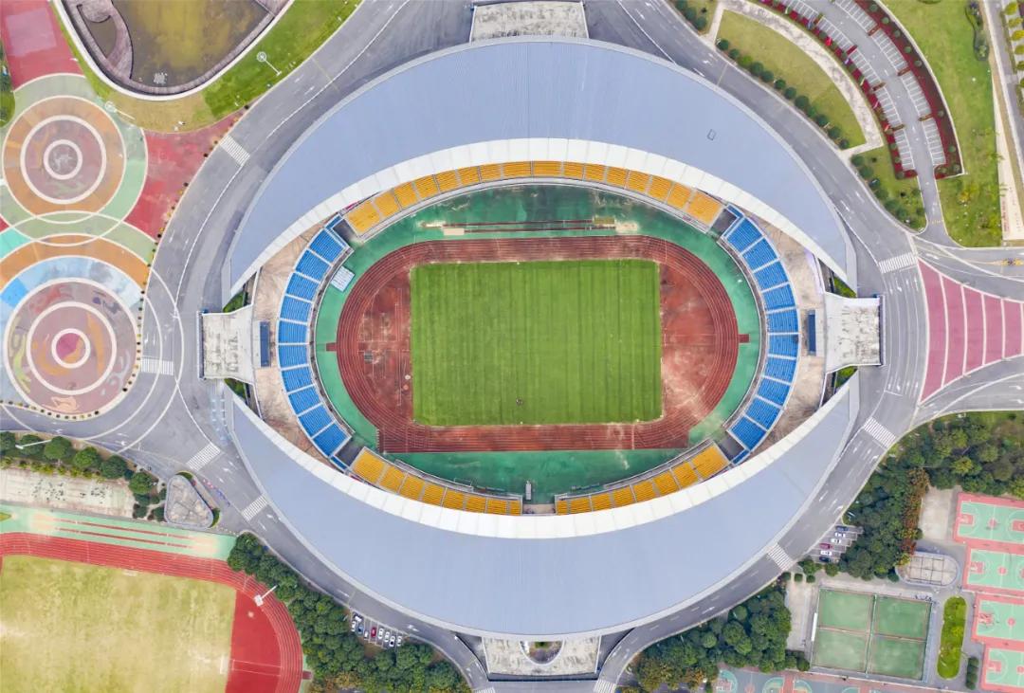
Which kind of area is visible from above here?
sports ground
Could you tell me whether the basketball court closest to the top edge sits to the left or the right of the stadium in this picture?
on the right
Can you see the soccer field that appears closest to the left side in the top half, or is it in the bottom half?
bottom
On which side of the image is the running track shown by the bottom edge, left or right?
left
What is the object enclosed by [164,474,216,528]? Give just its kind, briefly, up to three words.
building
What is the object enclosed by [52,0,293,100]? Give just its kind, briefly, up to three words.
pond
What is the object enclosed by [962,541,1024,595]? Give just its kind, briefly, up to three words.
basketball court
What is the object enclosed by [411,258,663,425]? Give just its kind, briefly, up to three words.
soccer field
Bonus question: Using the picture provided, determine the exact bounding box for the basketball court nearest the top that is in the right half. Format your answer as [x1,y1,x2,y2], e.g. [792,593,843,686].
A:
[952,493,1024,547]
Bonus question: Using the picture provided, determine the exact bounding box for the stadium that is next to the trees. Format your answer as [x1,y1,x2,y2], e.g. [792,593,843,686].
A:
[197,0,885,682]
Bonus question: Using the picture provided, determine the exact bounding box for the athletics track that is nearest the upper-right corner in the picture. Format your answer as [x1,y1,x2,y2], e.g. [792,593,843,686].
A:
[326,188,748,499]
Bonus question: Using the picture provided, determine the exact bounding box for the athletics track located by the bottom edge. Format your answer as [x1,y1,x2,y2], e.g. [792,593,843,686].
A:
[0,503,305,693]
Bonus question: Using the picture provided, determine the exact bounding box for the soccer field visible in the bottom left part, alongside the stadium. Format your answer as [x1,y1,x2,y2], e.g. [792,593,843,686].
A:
[0,554,235,693]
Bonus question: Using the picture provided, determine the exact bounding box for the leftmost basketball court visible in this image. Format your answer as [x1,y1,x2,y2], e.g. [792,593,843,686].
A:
[712,664,787,693]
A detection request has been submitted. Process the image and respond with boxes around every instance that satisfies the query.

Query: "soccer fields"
[0,554,235,693]
[411,258,663,425]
